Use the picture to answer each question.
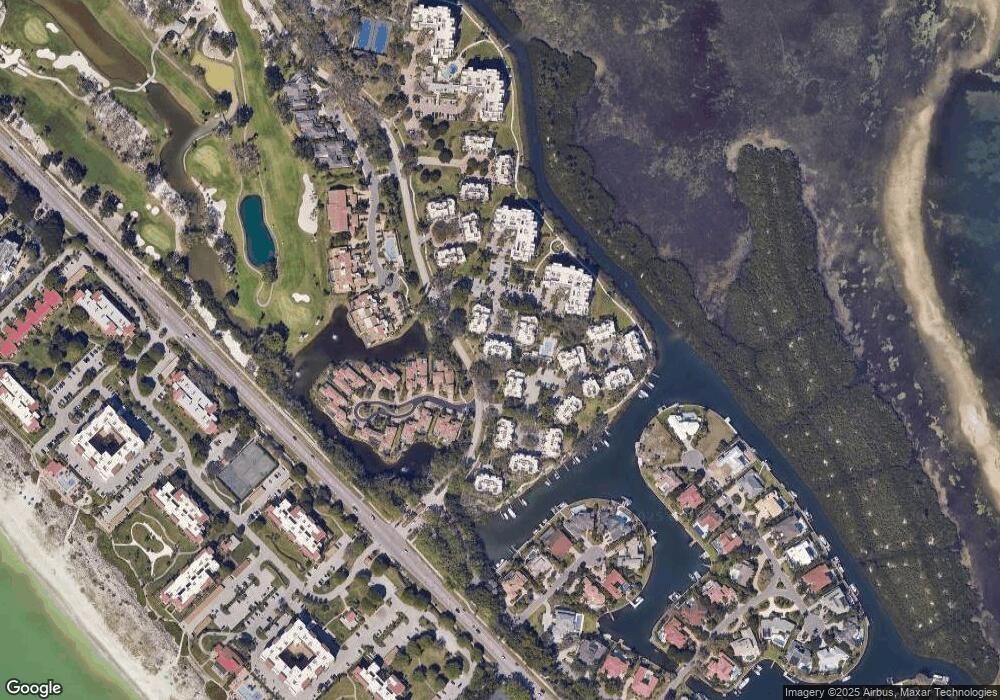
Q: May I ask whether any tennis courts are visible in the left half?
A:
Yes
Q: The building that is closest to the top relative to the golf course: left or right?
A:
to the right of it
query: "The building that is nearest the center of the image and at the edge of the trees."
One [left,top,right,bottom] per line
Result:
[480,336,513,356]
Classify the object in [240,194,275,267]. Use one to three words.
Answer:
pond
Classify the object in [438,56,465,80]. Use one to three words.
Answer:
swimming pool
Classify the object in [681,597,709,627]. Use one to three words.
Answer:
house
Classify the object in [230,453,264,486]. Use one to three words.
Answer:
tennis court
